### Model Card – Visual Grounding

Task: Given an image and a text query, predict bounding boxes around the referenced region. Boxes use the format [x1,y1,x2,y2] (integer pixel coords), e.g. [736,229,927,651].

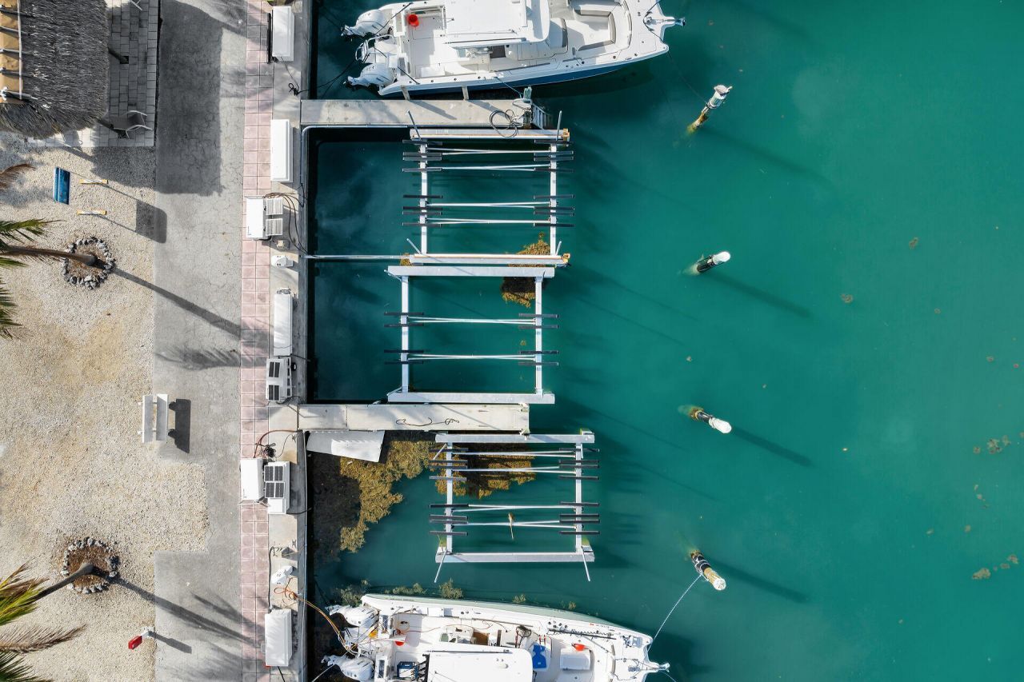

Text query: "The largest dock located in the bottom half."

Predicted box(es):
[298,402,528,432]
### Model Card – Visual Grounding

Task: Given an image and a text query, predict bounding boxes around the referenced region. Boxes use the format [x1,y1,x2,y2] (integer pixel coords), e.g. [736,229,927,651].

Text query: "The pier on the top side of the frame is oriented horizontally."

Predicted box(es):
[300,99,527,137]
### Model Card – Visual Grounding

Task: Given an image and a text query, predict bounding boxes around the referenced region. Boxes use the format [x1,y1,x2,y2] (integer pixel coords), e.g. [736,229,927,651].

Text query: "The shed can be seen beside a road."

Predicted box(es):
[0,0,130,149]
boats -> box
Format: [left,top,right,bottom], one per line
[334,0,691,99]
[317,587,675,682]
